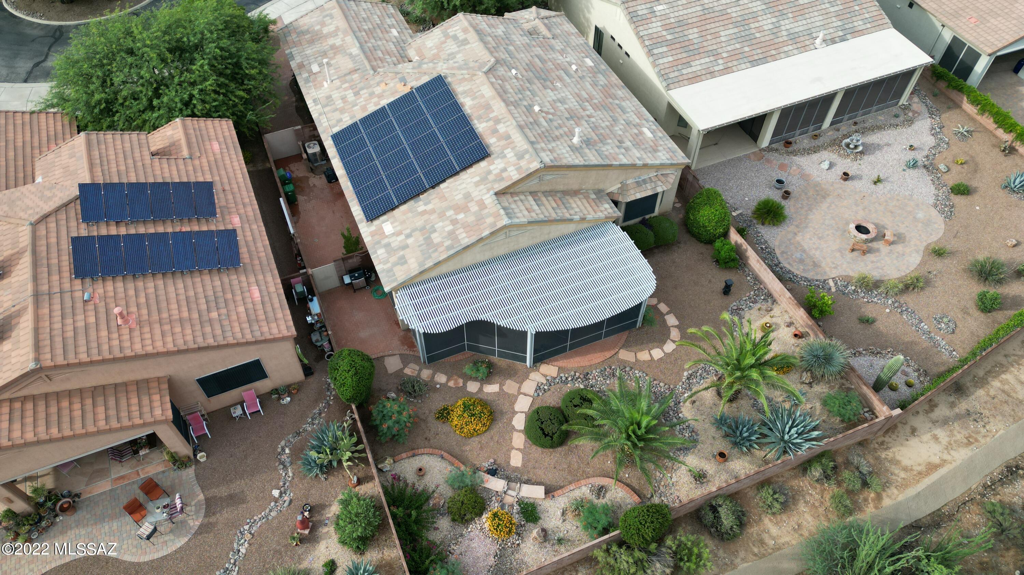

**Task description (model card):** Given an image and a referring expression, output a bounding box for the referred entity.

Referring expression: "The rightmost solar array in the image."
[308,73,488,222]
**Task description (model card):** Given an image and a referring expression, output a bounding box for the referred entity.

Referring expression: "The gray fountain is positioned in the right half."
[843,130,865,153]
